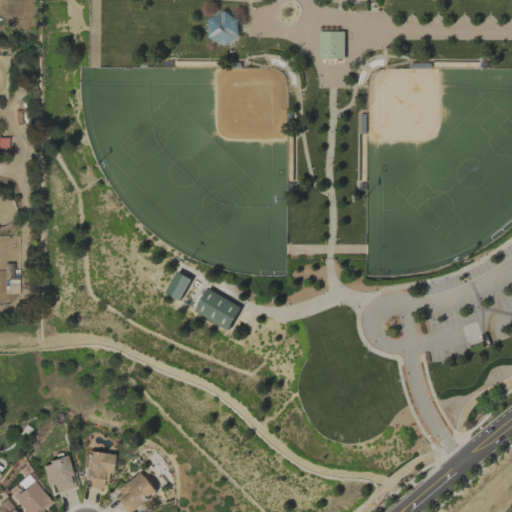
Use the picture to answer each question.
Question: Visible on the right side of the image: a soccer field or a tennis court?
soccer field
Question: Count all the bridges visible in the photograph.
0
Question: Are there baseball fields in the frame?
Yes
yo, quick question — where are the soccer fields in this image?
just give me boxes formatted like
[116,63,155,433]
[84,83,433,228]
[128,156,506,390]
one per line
[396,98,512,246]
[110,98,259,246]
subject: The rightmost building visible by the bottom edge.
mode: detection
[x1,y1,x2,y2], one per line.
[119,474,156,512]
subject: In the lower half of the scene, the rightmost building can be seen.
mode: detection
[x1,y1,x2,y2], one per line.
[196,288,241,329]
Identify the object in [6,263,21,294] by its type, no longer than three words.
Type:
building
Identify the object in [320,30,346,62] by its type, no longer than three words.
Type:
building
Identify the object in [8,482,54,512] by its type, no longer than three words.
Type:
house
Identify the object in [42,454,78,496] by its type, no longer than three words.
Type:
house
